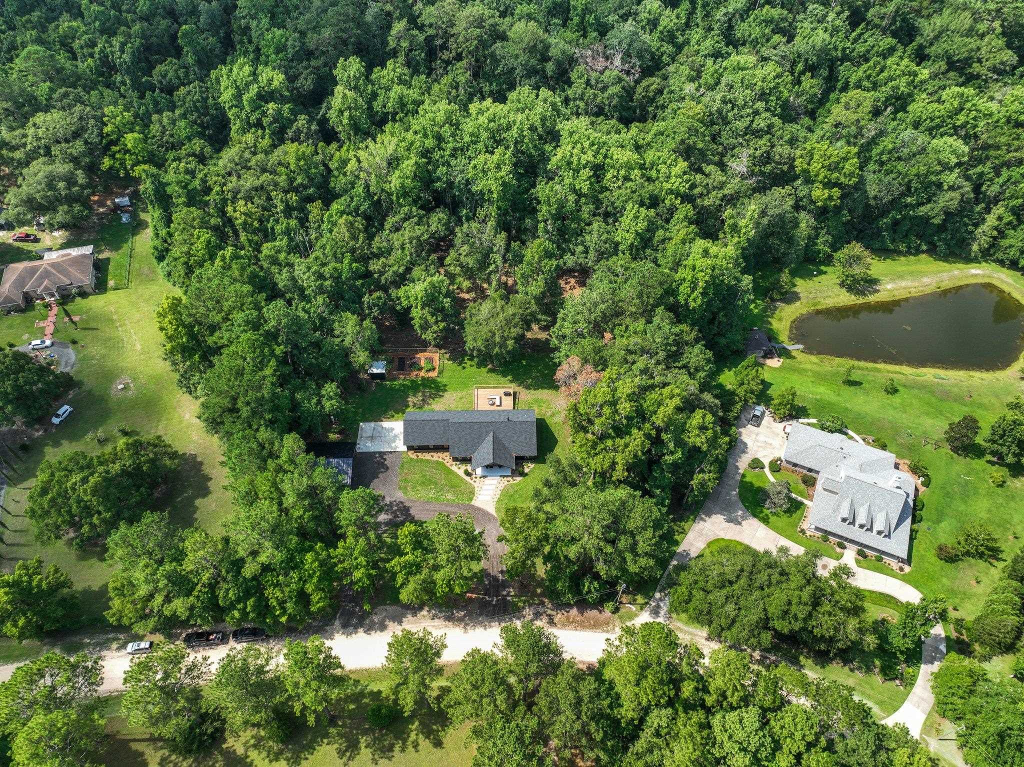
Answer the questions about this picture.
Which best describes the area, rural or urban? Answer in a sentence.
This place is rural.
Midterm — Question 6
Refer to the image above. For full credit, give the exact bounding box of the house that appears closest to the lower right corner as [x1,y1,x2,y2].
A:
[783,421,917,564]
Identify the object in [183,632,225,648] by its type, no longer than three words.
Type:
vehicle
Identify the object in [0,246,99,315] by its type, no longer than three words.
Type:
house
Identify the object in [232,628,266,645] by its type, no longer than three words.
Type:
car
